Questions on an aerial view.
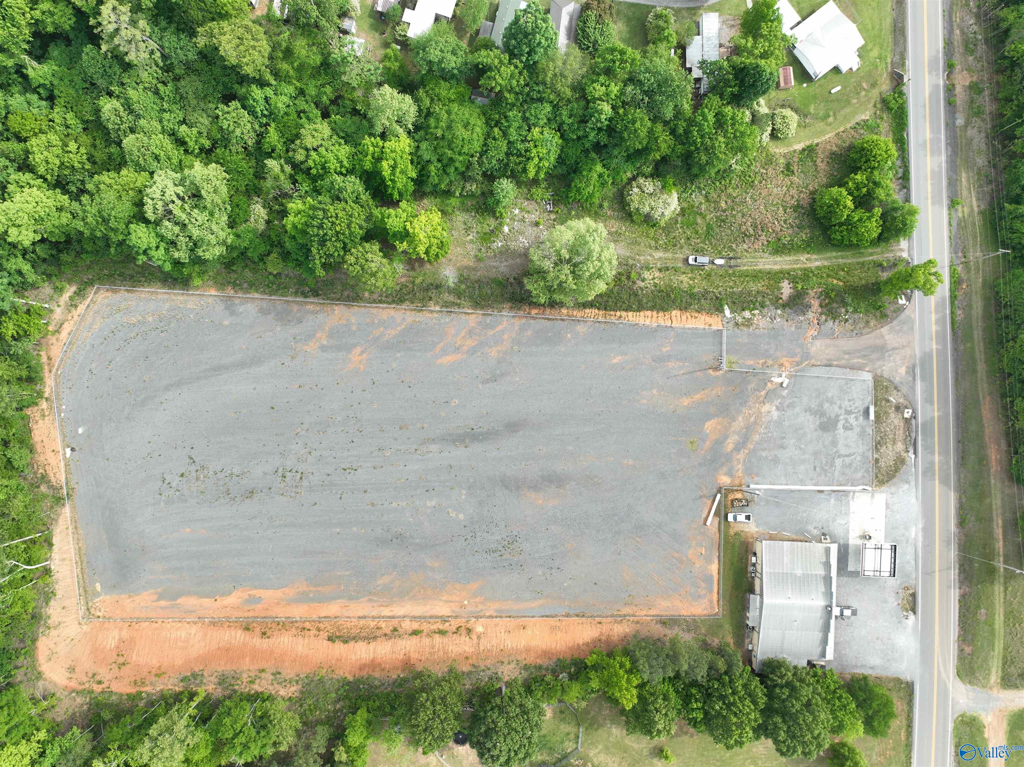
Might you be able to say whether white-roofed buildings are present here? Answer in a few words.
Yes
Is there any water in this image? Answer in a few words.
No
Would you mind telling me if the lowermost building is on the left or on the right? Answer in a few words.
right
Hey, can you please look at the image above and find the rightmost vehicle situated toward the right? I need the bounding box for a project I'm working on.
[835,608,860,621]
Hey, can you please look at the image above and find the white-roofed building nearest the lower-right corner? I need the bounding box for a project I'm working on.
[745,538,838,673]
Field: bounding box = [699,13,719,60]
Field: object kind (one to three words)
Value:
house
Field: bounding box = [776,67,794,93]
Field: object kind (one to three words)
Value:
shed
